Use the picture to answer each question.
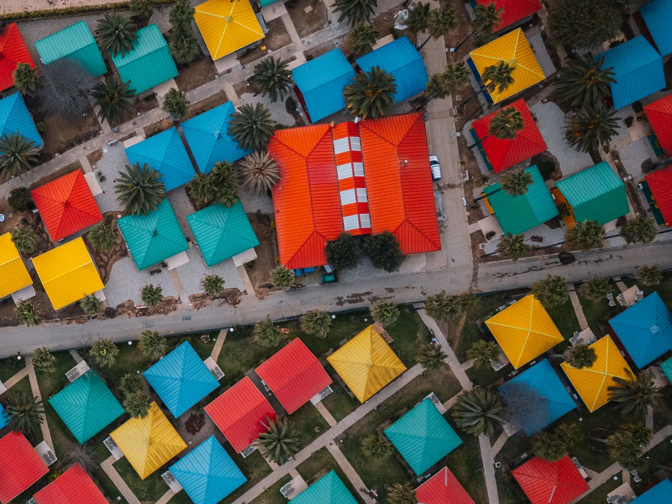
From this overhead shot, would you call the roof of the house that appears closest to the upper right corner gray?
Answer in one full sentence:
No, from above the roof of the house that appears closest to the upper right corner looks blue.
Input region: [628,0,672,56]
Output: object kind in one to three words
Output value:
house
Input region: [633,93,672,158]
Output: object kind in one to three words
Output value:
house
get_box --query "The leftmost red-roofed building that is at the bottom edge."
[0,430,50,504]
